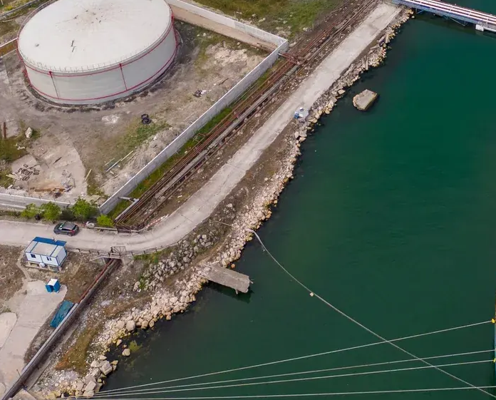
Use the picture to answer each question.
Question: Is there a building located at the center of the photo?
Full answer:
No, no building appears at the center of the photo.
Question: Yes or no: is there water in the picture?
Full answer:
Yes, the picture does contain water.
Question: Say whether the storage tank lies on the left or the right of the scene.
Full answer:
It is on the left.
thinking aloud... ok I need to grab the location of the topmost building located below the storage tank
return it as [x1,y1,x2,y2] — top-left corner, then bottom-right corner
[23,237,69,270]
